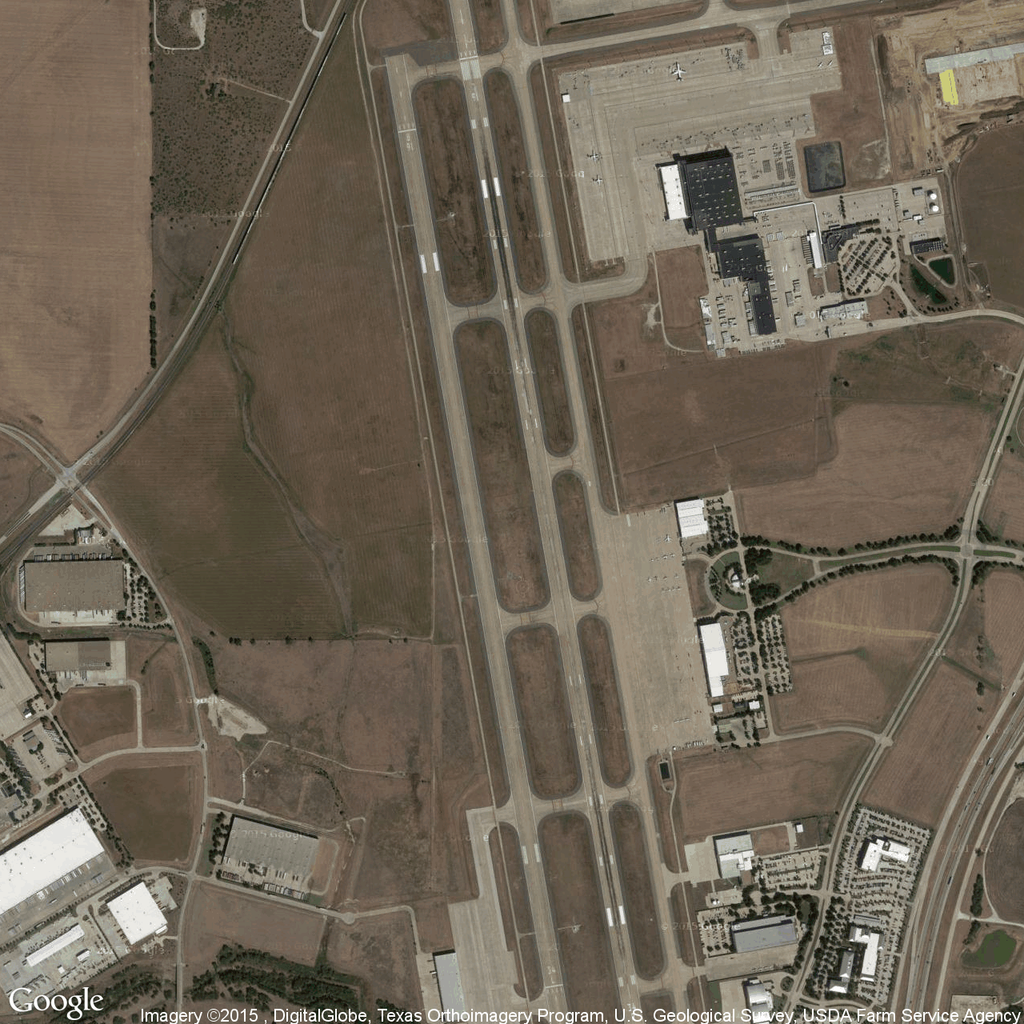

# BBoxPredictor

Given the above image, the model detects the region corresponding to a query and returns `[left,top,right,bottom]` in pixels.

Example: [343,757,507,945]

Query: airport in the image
[379,0,946,1024]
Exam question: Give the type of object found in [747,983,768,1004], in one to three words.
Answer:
hangar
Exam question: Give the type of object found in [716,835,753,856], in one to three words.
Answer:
hangar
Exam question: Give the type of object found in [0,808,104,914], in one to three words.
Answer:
building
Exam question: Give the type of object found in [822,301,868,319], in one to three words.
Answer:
shed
